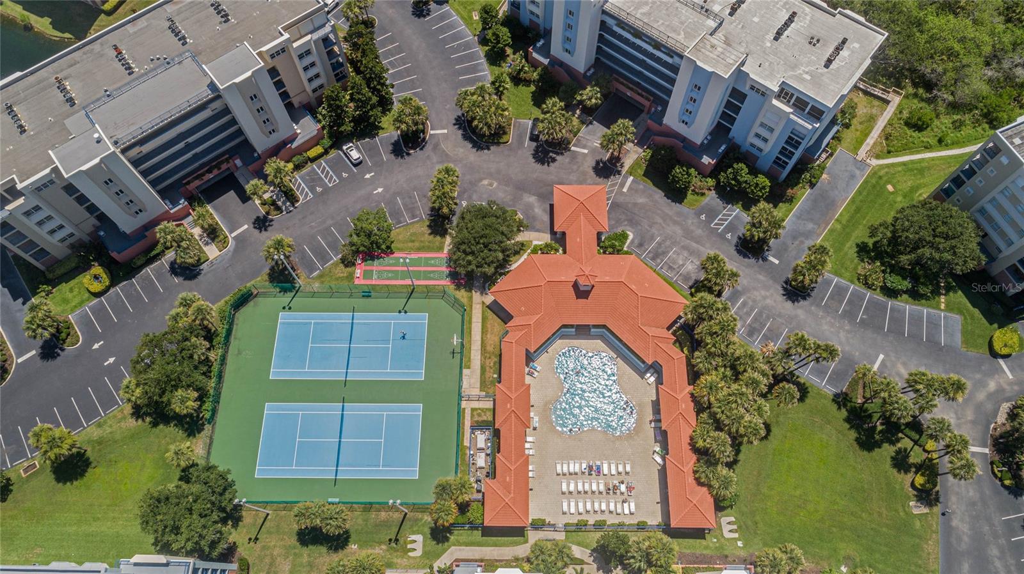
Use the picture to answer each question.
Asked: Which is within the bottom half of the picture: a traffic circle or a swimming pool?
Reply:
swimming pool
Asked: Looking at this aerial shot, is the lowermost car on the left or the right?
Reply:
left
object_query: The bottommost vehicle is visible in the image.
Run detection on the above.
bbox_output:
[341,143,365,165]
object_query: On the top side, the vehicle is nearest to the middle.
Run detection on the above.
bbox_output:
[526,119,541,143]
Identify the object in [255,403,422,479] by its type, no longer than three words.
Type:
tennis court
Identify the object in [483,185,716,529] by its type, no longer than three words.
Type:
building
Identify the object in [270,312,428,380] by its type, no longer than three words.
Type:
tennis court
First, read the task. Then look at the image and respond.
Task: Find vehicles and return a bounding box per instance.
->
[325,0,343,14]
[526,119,541,143]
[341,143,365,165]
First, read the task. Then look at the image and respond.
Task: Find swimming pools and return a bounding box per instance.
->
[550,345,639,437]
